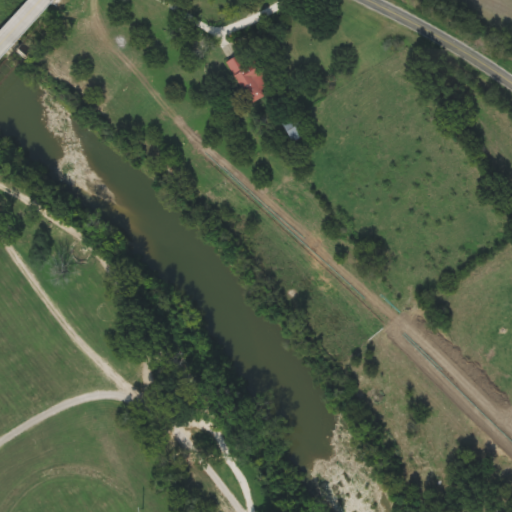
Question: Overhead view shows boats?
No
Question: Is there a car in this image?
No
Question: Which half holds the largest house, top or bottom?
top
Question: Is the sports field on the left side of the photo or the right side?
left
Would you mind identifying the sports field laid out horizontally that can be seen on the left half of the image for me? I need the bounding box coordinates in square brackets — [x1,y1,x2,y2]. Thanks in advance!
[0,464,141,512]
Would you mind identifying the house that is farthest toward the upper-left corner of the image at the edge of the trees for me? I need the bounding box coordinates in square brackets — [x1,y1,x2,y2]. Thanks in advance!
[226,57,266,102]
